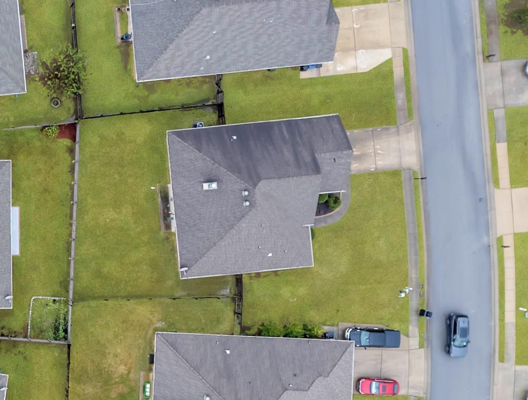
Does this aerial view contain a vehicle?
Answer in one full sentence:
Yes, looking at the shot, I can spot a vehicle.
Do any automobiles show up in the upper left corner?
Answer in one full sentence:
No, looking in the upper left corner, there is no automobile.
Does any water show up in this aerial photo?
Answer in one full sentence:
No, there is no water in the image.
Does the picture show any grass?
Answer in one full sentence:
Yes, some grass is visible.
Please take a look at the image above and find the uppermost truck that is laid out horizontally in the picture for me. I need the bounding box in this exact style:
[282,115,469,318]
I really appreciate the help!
[343,327,402,350]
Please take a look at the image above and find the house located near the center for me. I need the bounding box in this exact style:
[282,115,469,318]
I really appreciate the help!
[164,113,353,280]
